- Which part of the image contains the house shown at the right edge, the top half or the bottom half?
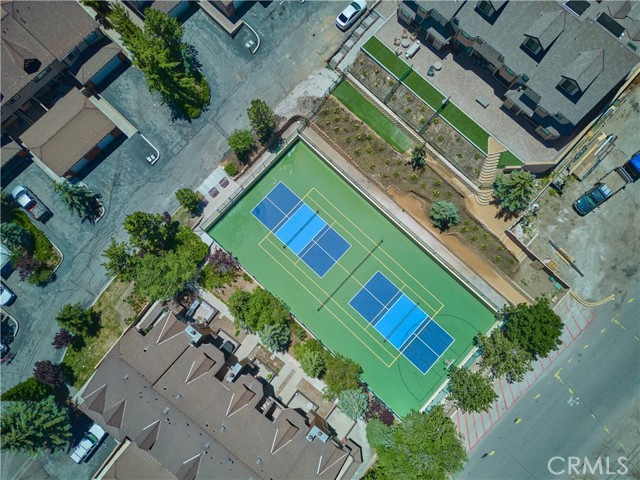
top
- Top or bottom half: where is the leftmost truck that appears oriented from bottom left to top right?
bottom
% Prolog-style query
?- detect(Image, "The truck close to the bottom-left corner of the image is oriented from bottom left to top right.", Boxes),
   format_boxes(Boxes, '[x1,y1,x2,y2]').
[64,420,109,469]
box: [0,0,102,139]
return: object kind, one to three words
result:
house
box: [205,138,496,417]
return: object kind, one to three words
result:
sports court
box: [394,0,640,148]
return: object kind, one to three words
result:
house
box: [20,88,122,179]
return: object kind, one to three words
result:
building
